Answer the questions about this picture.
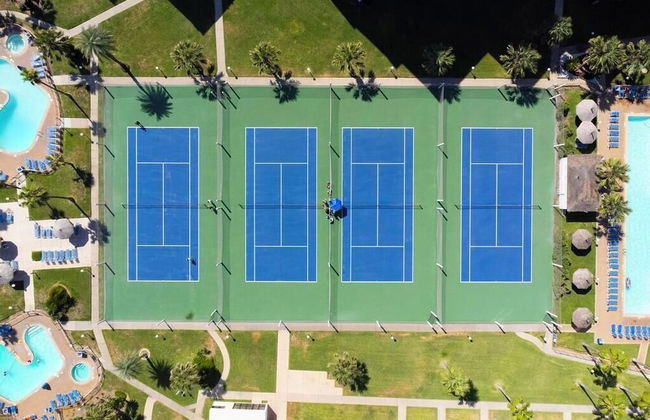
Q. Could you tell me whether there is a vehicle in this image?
No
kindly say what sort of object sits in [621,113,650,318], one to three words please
swimming pool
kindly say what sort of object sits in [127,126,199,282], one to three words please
tennis court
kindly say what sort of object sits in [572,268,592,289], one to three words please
umbrella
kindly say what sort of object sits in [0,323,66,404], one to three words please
swimming pool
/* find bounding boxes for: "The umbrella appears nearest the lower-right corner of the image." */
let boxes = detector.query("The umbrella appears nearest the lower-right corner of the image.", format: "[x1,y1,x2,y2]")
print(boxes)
[571,310,592,331]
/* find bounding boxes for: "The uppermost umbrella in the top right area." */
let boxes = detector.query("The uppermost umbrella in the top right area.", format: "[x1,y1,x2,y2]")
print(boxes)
[576,101,596,121]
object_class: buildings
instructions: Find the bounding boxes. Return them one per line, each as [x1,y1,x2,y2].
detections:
[560,153,604,213]
[206,402,267,420]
